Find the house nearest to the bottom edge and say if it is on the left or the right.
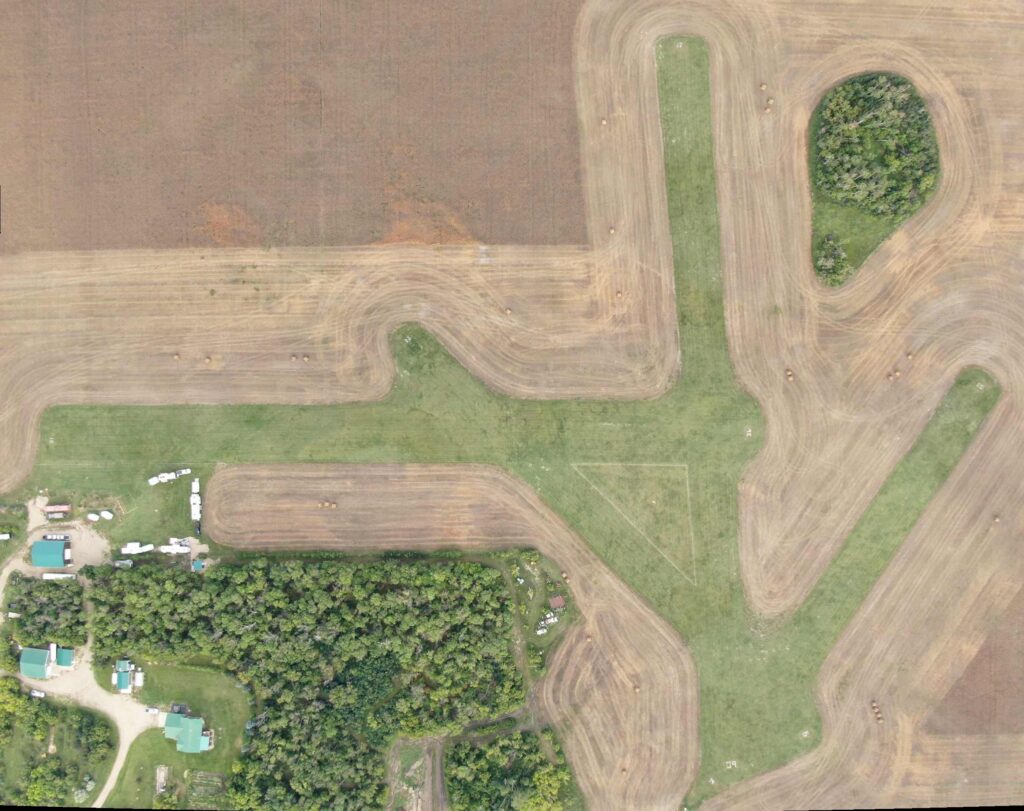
left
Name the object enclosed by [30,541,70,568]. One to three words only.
building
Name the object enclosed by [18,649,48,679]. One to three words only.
barn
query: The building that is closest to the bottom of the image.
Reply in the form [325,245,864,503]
[165,704,210,754]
